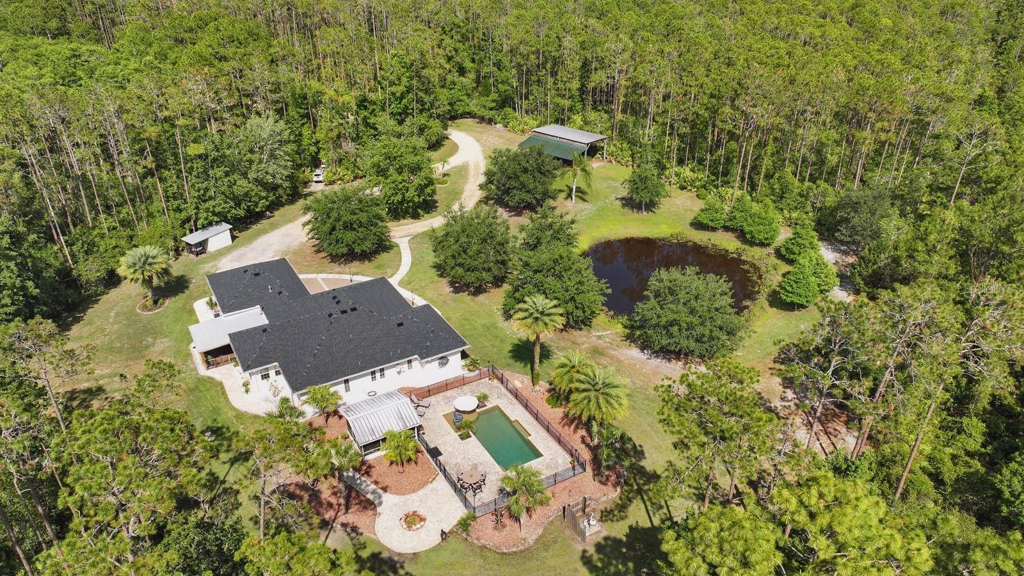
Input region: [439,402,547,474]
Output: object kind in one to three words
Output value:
swimming pool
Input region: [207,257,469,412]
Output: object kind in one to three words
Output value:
house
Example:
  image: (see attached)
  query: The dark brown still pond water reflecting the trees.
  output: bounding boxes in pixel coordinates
[577,237,767,331]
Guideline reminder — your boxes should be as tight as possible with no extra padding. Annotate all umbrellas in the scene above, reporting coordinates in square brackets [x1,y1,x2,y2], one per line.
[454,395,479,414]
